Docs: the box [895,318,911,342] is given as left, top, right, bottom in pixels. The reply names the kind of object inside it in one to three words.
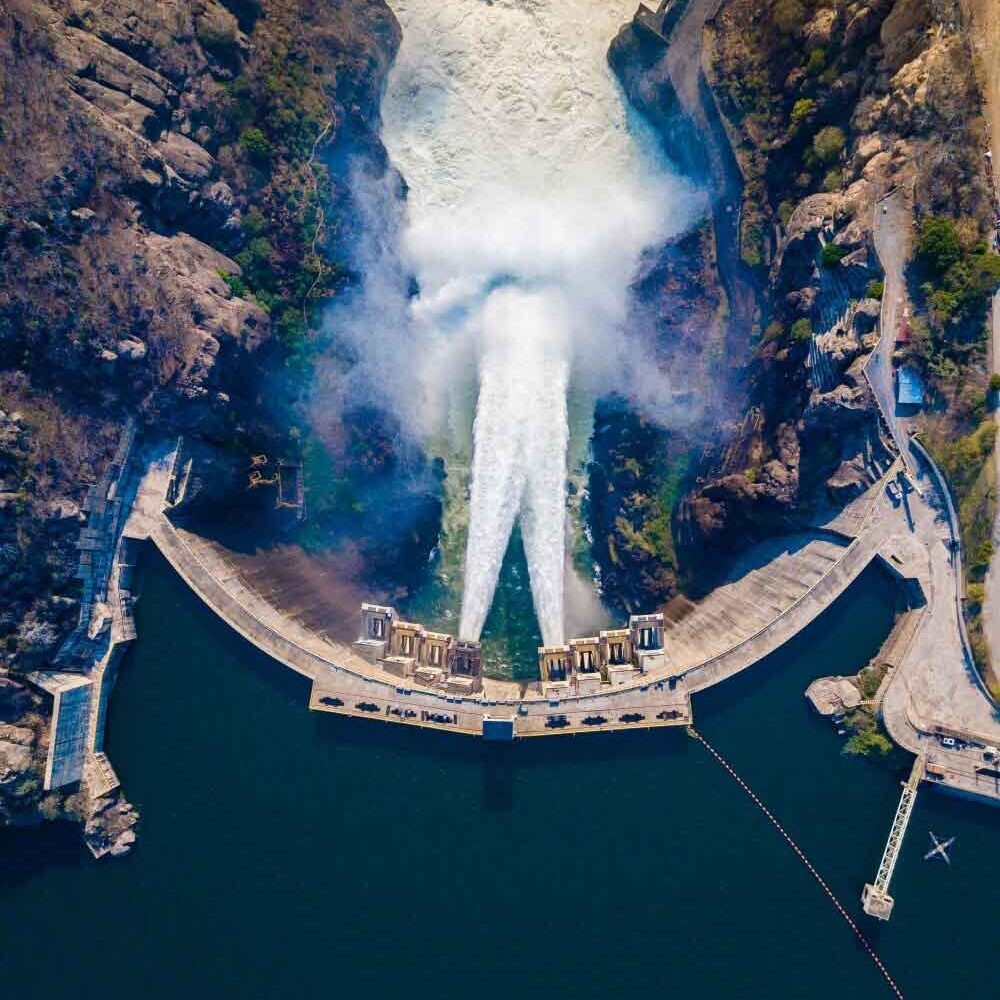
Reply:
shed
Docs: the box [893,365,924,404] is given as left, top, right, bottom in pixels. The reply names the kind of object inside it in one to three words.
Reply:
house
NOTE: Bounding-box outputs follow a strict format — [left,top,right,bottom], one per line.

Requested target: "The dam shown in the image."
[150,500,878,739]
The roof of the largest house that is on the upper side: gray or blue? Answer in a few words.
blue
